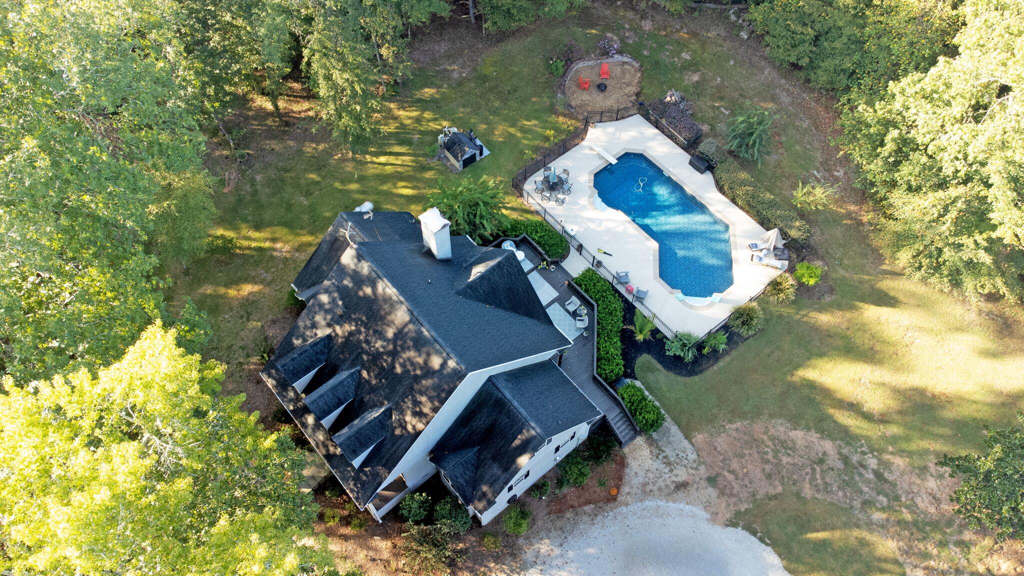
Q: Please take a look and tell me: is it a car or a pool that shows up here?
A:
pool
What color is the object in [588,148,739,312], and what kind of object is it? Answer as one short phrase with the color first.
blue swimming pool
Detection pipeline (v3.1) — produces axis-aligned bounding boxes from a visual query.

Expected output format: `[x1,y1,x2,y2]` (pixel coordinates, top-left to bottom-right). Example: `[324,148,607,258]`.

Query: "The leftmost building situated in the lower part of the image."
[260,208,606,528]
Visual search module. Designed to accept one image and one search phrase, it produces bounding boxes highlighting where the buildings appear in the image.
[441,130,481,170]
[260,208,606,528]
